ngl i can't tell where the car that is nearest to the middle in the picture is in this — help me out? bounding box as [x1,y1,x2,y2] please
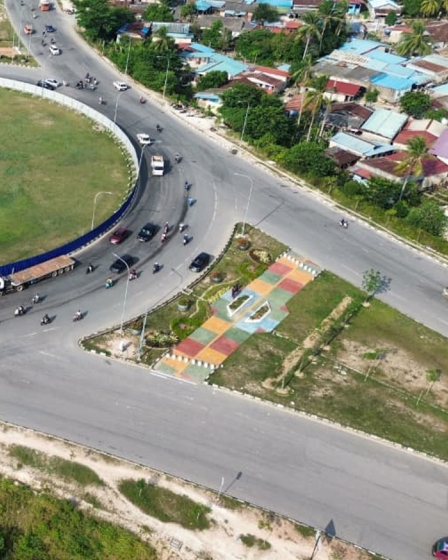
[187,253,213,271]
